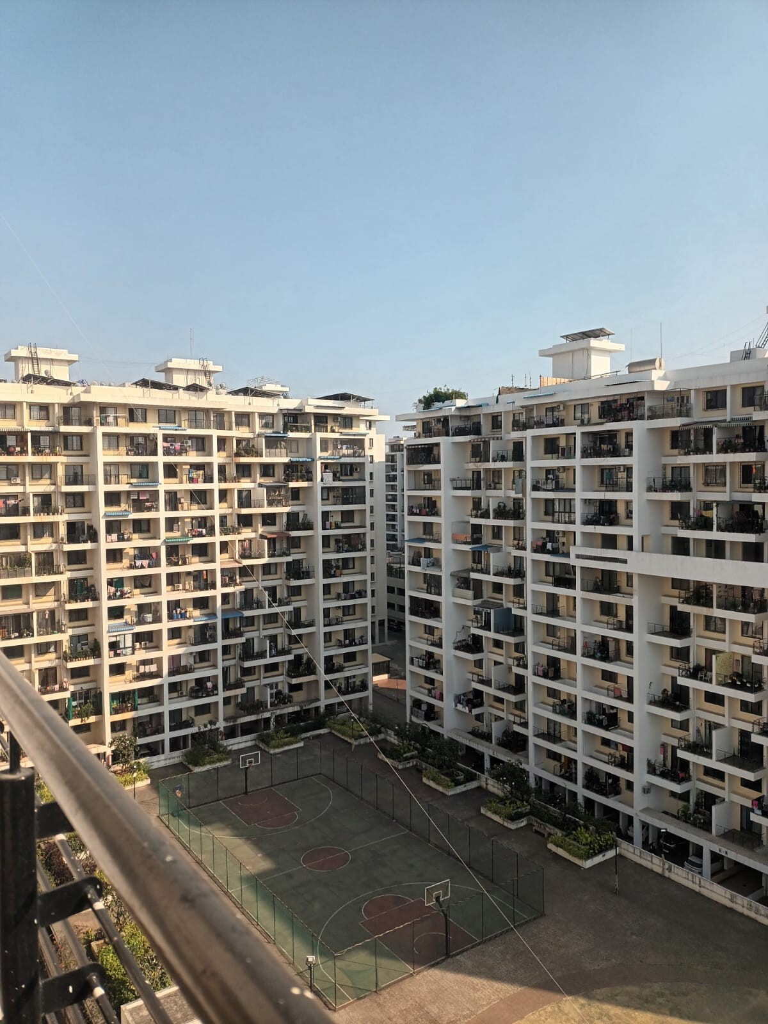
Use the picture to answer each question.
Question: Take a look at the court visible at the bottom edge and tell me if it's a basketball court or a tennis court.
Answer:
basketball court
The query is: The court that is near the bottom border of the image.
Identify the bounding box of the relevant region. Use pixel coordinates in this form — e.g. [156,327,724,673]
[162,775,541,1006]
